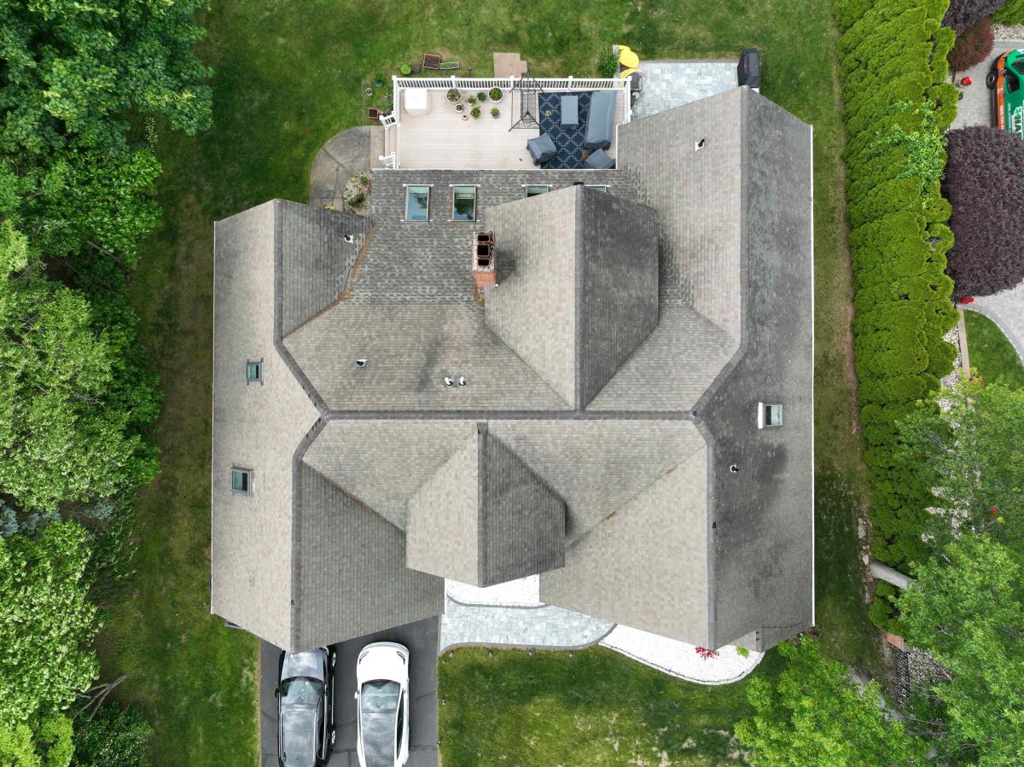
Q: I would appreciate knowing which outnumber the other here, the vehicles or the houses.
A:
vehicles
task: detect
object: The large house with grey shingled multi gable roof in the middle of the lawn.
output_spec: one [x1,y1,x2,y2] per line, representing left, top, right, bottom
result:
[209,86,817,652]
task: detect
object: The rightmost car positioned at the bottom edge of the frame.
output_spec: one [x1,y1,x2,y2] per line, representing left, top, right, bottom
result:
[352,637,411,767]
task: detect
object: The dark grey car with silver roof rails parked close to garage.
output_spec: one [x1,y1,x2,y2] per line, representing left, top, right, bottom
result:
[271,642,336,767]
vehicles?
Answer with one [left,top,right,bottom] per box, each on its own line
[985,50,1024,168]
[352,637,411,767]
[271,642,336,767]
